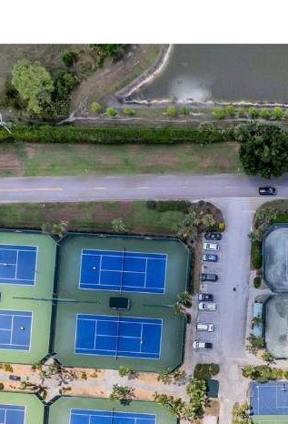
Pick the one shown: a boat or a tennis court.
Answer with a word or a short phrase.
tennis court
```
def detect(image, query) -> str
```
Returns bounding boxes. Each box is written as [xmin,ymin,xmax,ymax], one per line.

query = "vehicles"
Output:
[198,302,216,309]
[200,272,217,281]
[8,375,18,380]
[203,242,218,250]
[202,253,218,261]
[204,231,221,240]
[197,323,213,331]
[199,293,213,300]
[259,185,276,194]
[193,341,212,349]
